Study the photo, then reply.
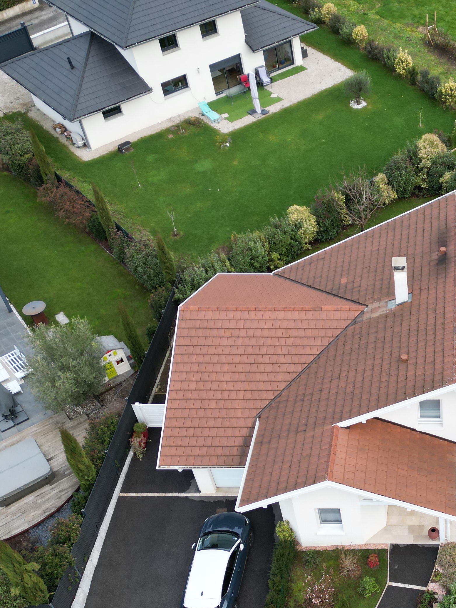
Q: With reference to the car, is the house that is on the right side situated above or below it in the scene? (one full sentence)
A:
The house that is on the right side is found above the car in the photo.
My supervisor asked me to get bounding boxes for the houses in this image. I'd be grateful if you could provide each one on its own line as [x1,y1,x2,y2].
[155,189,456,544]
[0,0,321,149]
